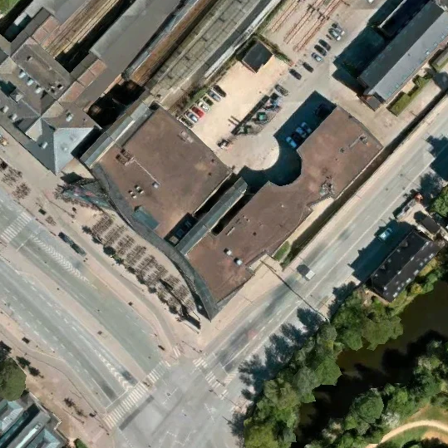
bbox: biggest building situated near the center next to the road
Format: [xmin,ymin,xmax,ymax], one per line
[86,102,374,322]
